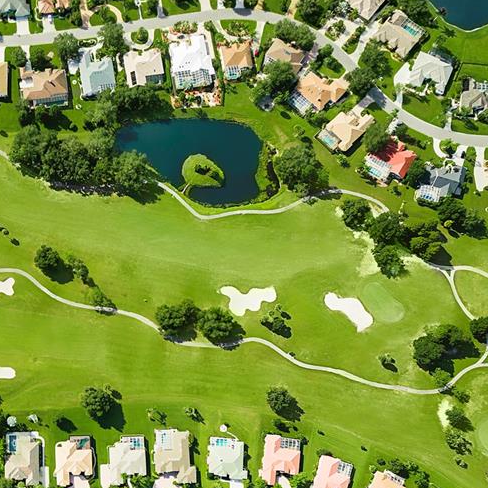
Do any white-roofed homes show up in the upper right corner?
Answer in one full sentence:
Yes, a white-roofed home is visible in the upper right corner.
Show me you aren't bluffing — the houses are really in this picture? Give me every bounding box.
[20,68,67,104]
[411,166,466,205]
[78,51,116,95]
[362,140,414,183]
[405,47,452,93]
[6,431,40,485]
[262,435,300,485]
[325,112,374,149]
[287,74,348,115]
[312,454,354,488]
[38,0,73,16]
[254,39,305,72]
[124,48,164,88]
[220,40,253,82]
[0,0,31,18]
[364,468,406,488]
[154,429,197,483]
[56,444,92,487]
[348,0,386,20]
[170,34,215,91]
[208,438,247,479]
[0,65,9,98]
[374,9,425,59]
[109,435,146,484]
[457,82,488,119]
